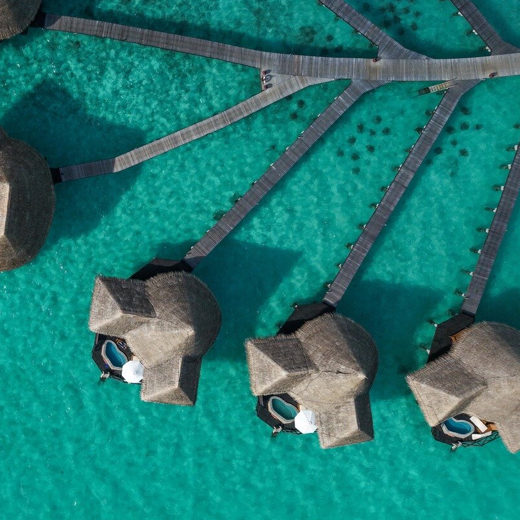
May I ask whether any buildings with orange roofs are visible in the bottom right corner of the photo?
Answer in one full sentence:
No, I can find no building with an orange roof in the bottom right corner of the photo.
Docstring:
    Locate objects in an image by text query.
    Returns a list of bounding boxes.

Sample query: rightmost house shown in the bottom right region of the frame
[396,309,520,454]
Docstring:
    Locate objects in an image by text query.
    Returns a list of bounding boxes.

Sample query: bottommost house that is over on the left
[88,255,221,407]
